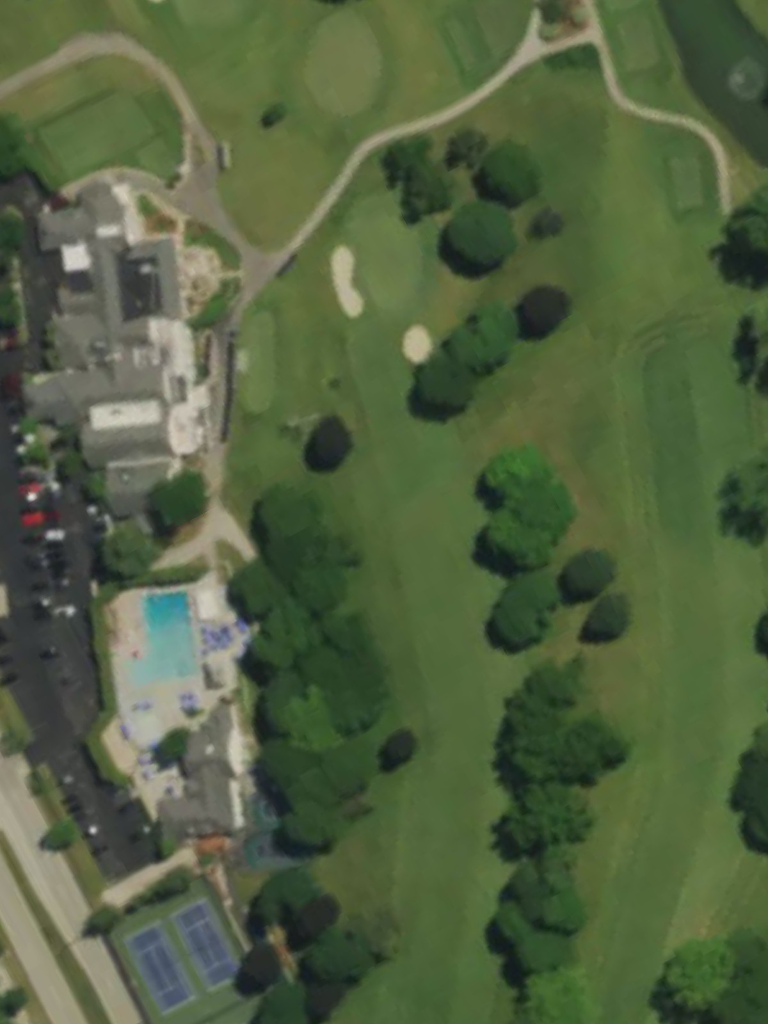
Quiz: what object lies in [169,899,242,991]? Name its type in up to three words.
tennis court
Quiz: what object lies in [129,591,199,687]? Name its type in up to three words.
swimming pool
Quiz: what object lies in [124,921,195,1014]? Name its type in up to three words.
tennis court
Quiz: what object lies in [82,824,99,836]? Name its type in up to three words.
vehicle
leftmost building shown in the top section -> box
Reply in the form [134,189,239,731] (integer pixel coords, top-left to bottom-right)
[24,181,188,517]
